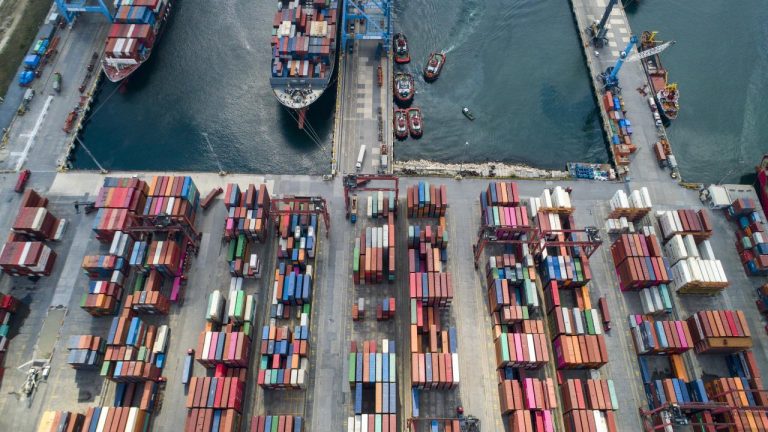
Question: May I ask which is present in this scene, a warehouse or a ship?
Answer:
ship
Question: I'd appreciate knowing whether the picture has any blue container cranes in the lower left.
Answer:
No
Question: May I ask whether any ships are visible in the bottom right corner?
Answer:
No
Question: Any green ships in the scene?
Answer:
No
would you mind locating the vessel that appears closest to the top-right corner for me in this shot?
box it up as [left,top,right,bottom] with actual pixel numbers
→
[645,27,688,122]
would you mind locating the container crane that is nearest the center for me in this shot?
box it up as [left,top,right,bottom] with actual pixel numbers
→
[344,176,400,215]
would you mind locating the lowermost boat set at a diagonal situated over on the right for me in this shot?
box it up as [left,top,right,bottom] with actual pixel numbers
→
[459,107,474,123]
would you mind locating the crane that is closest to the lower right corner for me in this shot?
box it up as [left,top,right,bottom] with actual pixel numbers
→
[703,392,768,427]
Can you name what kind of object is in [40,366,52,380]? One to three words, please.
vehicle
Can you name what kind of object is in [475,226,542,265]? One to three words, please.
container crane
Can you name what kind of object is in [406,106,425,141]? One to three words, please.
boat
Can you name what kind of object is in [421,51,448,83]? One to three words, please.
boat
